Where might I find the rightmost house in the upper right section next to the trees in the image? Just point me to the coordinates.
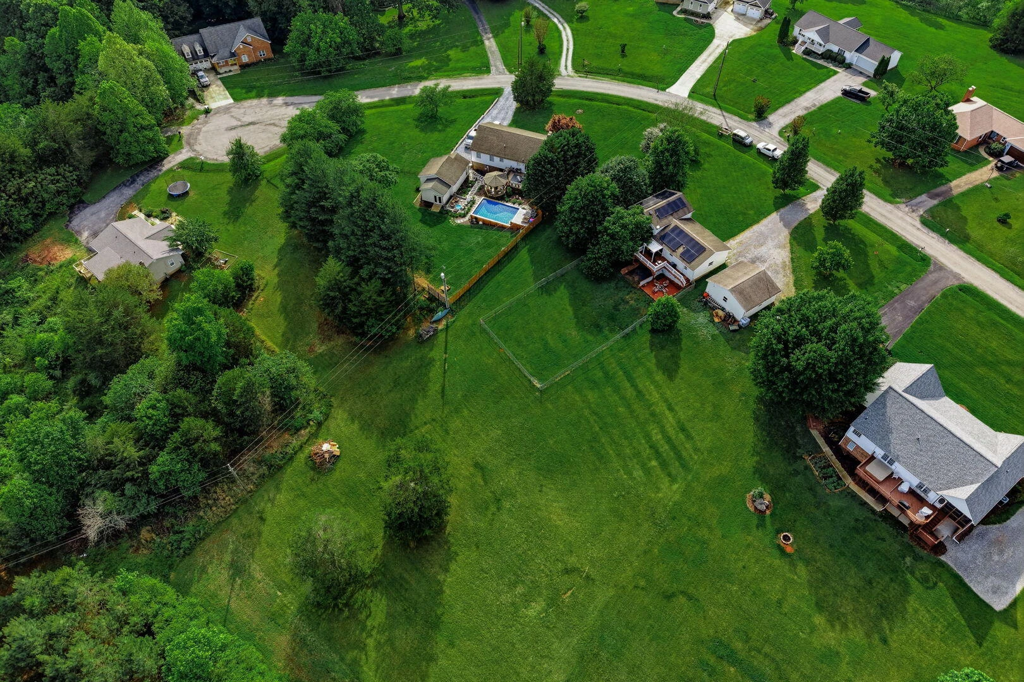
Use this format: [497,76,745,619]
[932,84,1024,173]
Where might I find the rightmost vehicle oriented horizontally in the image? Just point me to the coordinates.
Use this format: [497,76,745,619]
[843,86,870,99]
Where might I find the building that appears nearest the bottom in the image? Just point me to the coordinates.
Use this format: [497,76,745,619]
[840,357,1024,550]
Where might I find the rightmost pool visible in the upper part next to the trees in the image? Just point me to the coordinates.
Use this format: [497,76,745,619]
[472,197,535,234]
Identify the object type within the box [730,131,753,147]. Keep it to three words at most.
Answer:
car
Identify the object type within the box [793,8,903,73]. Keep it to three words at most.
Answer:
house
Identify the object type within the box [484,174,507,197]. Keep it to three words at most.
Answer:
gazebo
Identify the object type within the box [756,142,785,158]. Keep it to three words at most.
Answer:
vehicle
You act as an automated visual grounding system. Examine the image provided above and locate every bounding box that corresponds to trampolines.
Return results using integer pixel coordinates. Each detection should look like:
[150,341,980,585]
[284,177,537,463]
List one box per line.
[162,177,190,199]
